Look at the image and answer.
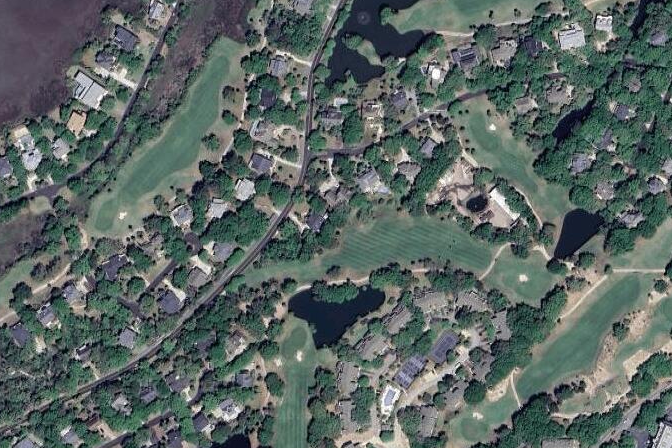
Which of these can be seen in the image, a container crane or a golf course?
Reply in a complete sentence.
There is a golf course in the scene.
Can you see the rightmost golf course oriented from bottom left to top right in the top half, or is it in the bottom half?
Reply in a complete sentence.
Seen from above, the rightmost golf course oriented from bottom left to top right lies in the bottom half of the view.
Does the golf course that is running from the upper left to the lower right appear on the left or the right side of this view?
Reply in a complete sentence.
The golf course that is running from the upper left to the lower right appears in the right half of the scene.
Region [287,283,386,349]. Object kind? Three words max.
pond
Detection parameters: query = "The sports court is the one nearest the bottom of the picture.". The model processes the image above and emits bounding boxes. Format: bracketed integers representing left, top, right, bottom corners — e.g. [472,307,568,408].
[394,350,425,385]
